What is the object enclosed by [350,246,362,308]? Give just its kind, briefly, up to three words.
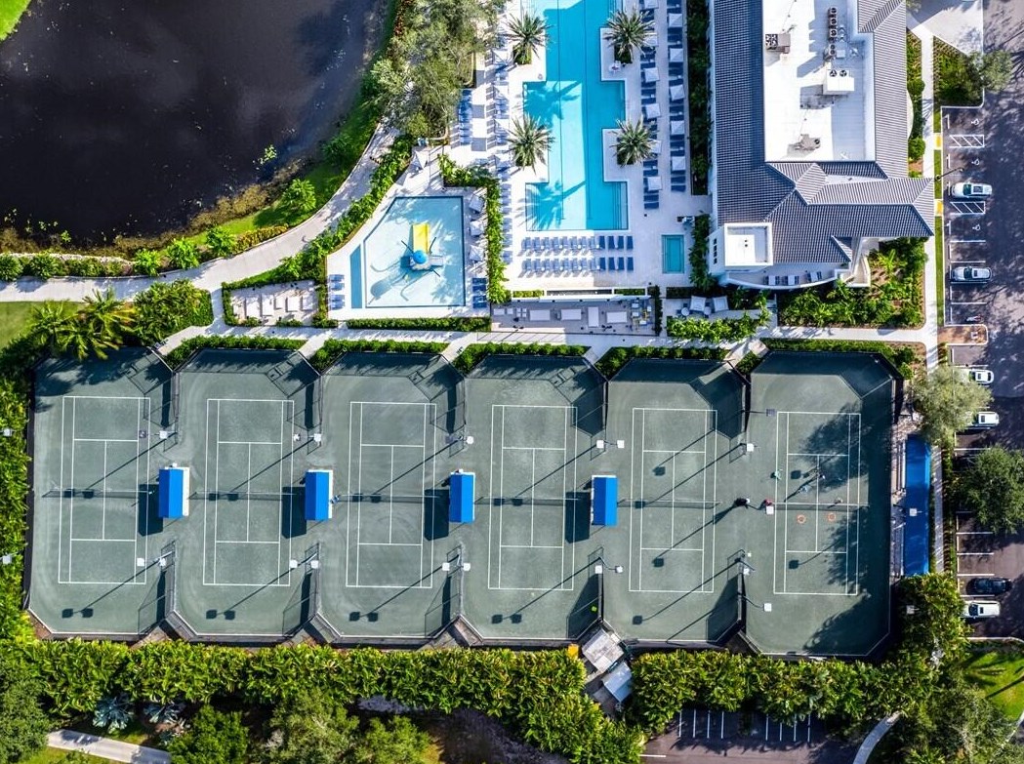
swimming pool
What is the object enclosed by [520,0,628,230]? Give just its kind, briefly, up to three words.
swimming pool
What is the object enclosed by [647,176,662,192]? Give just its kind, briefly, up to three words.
umbrella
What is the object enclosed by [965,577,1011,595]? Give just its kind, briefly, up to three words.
car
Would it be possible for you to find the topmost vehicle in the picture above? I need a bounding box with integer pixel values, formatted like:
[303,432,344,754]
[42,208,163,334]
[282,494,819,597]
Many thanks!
[948,181,992,200]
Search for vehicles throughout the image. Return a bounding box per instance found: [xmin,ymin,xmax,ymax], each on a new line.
[963,599,1000,619]
[960,412,1001,429]
[949,265,991,283]
[965,577,1011,595]
[954,367,993,383]
[966,316,983,322]
[948,181,992,200]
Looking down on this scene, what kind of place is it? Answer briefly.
sports ground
